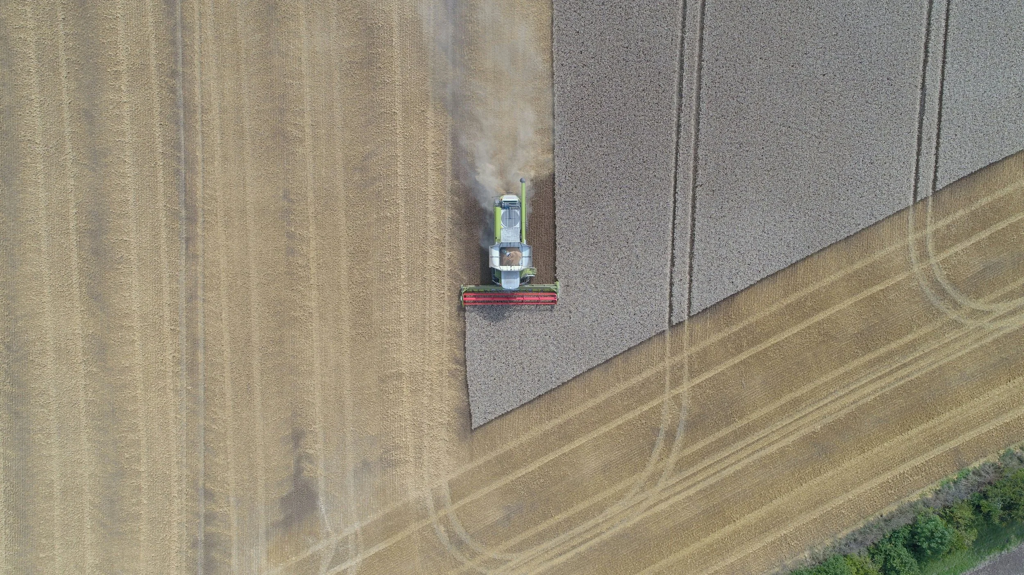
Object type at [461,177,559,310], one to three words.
work vehicle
